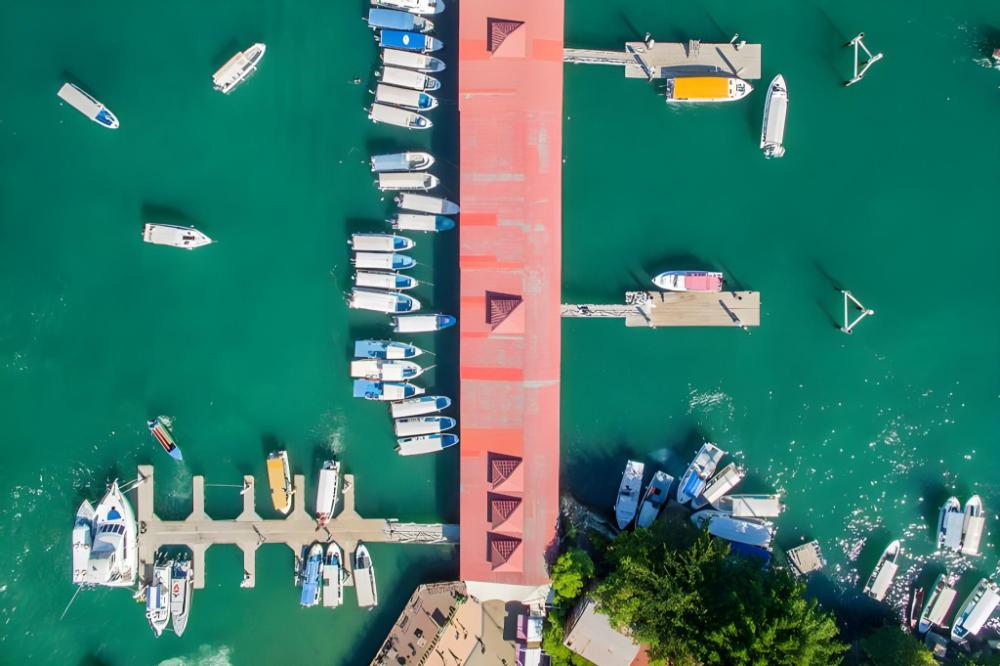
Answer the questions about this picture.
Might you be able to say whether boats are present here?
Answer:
Yes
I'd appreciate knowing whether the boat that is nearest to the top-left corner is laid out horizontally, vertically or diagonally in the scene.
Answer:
diagonally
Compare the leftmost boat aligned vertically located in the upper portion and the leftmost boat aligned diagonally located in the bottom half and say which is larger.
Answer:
the leftmost boat aligned vertically located in the upper portion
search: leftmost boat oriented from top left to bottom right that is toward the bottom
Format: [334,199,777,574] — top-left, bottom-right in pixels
[148,418,184,460]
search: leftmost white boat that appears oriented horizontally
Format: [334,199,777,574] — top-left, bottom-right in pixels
[139,224,215,248]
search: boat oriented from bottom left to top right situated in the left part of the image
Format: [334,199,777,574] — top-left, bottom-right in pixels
[213,43,267,94]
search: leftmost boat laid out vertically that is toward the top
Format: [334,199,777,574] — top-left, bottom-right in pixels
[761,73,790,157]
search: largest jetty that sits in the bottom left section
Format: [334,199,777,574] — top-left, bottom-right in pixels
[138,465,387,599]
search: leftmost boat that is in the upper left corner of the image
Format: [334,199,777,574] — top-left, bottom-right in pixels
[53,80,121,129]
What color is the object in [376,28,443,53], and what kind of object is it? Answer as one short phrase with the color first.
blue boat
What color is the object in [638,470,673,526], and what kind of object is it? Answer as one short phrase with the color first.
blue boat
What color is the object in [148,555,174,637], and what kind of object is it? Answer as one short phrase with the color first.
white boat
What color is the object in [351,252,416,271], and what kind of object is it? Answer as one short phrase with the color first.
white boat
